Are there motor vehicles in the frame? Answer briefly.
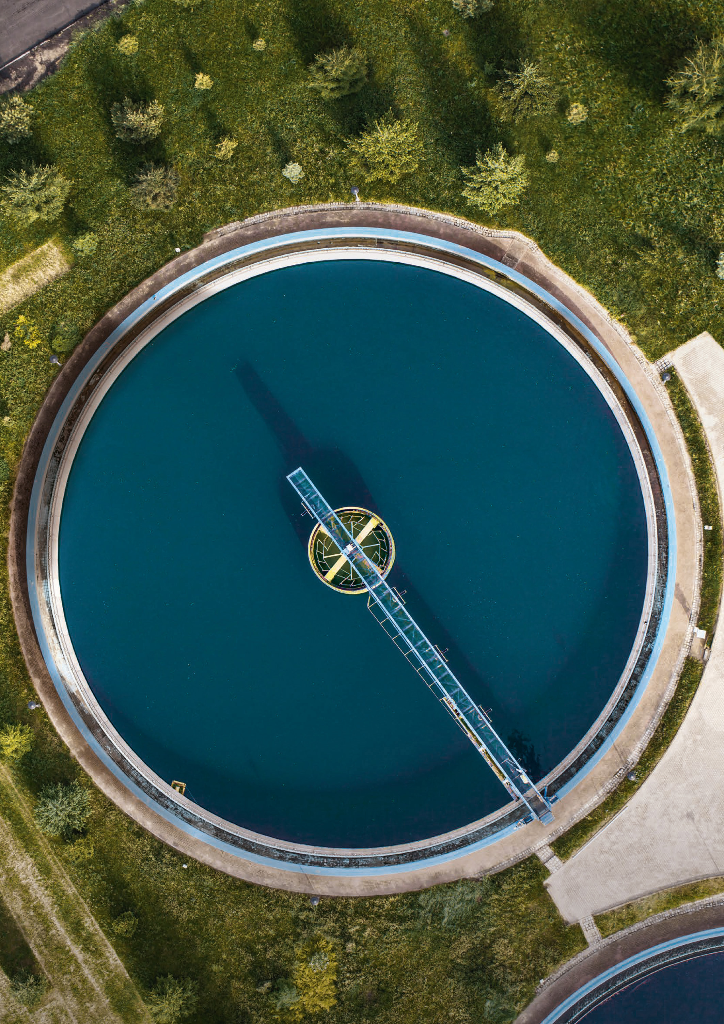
No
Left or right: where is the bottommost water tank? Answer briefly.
right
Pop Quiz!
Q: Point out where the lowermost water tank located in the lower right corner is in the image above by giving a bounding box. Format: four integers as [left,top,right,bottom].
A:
[535,924,724,1024]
